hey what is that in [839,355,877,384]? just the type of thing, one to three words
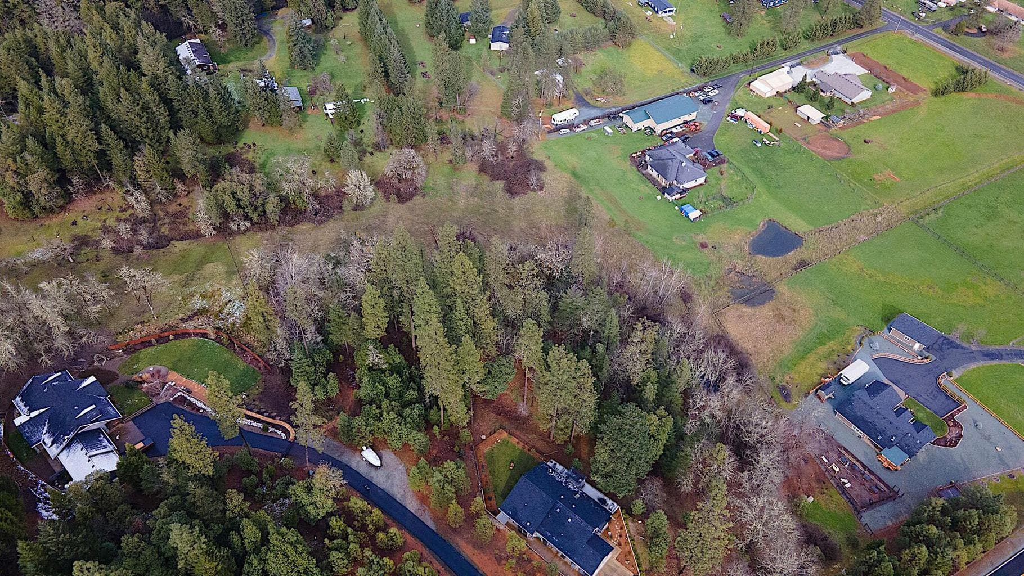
camper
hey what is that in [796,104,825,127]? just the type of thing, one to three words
shed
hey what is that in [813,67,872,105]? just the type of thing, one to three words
house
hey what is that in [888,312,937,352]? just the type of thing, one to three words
building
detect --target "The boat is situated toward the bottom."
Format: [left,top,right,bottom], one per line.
[358,444,378,463]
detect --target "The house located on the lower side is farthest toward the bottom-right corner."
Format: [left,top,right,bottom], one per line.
[833,376,934,459]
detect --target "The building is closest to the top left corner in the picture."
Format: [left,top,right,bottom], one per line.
[176,37,220,83]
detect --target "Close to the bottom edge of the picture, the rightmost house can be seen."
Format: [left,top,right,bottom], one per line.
[499,458,621,575]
